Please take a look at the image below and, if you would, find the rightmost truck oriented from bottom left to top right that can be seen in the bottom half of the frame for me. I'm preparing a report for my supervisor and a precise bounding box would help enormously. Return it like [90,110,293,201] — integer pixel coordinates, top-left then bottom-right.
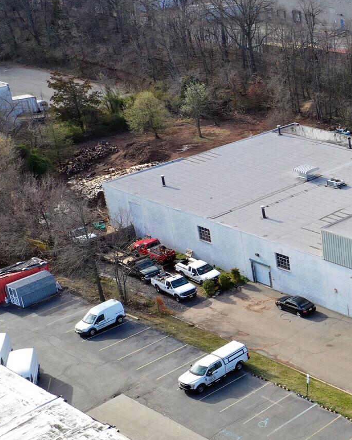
[173,338,249,394]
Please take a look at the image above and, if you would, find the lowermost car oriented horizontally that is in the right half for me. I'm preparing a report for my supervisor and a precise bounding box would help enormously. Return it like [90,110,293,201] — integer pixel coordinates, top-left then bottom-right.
[273,294,316,316]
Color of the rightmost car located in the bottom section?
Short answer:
black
